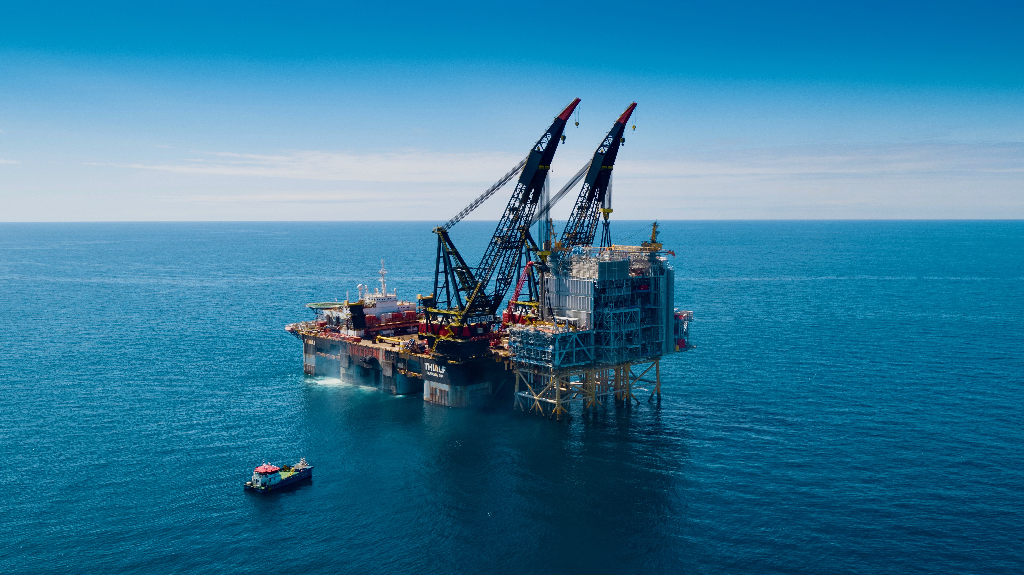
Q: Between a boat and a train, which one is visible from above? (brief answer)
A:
boat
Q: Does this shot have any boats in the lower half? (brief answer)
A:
Yes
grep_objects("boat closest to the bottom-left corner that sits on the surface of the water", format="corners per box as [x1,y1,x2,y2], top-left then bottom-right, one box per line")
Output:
[245,454,312,493]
